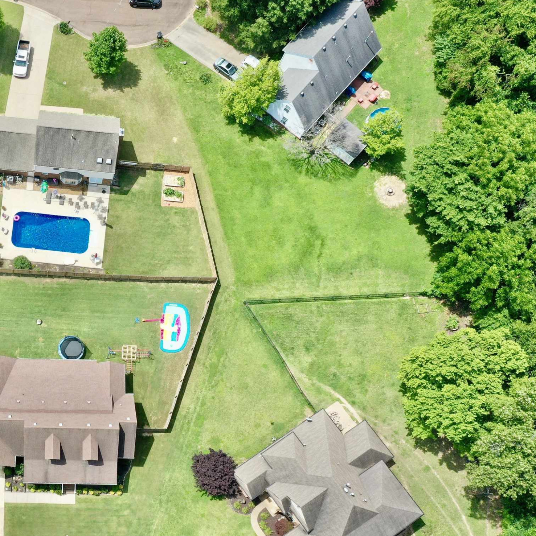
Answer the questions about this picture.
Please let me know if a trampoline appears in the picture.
Yes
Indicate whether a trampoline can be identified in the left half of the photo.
Yes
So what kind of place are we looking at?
residential area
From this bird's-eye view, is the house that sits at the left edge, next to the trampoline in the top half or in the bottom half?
bottom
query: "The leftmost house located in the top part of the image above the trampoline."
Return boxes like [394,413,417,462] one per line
[0,111,124,188]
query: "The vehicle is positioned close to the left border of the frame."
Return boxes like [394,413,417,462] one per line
[15,37,31,79]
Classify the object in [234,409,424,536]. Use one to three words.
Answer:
house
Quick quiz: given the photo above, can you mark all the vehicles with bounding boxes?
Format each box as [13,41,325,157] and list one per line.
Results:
[213,58,237,77]
[15,37,31,79]
[129,0,162,11]
[241,53,268,71]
